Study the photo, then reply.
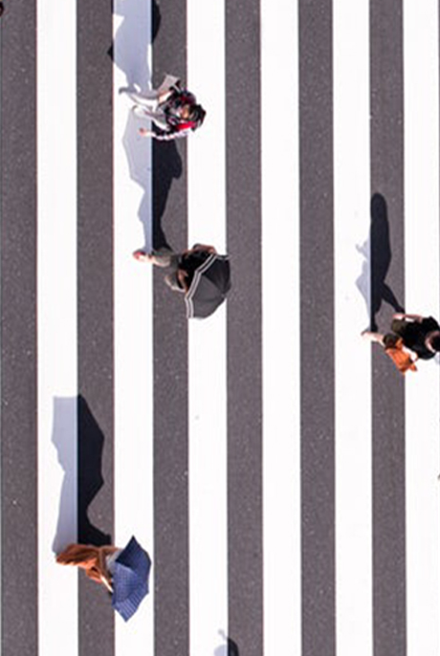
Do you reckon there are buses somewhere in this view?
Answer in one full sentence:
No, there is no bus in the image.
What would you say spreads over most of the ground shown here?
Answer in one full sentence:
The bulk of the photo consists of paved ground.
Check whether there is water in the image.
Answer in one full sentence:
No, there's no water in this view.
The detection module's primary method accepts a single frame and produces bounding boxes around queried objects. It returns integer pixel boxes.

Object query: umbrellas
[190,249,236,324]
[81,536,156,621]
